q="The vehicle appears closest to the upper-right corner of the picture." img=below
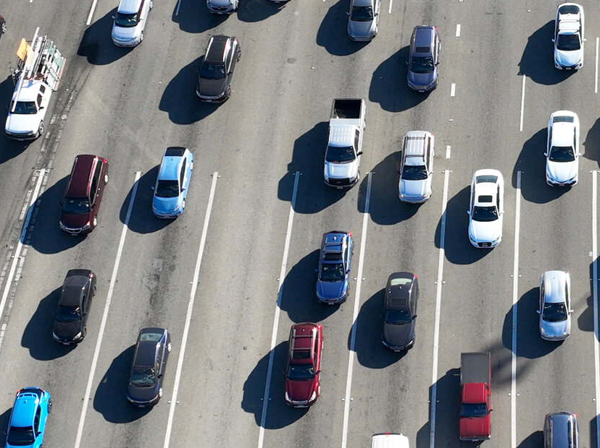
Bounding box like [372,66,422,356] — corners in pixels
[550,8,586,70]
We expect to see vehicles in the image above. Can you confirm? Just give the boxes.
[378,270,419,352]
[454,350,495,441]
[543,115,581,188]
[195,35,238,103]
[550,8,586,70]
[535,267,575,342]
[404,25,440,93]
[109,0,152,46]
[57,154,110,235]
[320,100,366,188]
[3,48,68,138]
[123,324,173,407]
[49,267,100,346]
[149,149,195,218]
[371,427,411,448]
[207,0,239,15]
[395,127,435,203]
[312,225,355,304]
[543,411,580,448]
[466,175,505,249]
[1,389,55,448]
[281,322,326,407]
[344,0,380,42]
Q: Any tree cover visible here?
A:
No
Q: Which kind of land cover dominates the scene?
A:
paved ground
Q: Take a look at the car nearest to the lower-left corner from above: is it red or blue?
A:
blue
